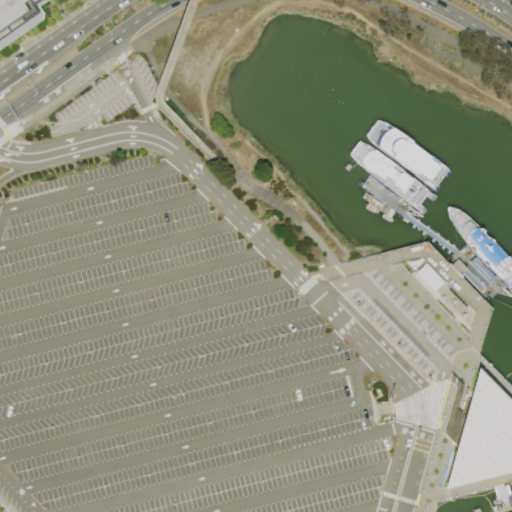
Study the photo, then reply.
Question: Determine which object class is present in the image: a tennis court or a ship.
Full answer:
Of the two, only a ship appears.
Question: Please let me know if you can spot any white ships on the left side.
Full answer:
No, the scene shows no white ship on the left side.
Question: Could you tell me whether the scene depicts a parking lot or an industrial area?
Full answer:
This image shows a parking lot.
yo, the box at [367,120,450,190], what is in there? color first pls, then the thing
white ship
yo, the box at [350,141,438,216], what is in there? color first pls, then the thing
white ship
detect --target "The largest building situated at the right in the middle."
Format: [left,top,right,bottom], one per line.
[417,262,445,292]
